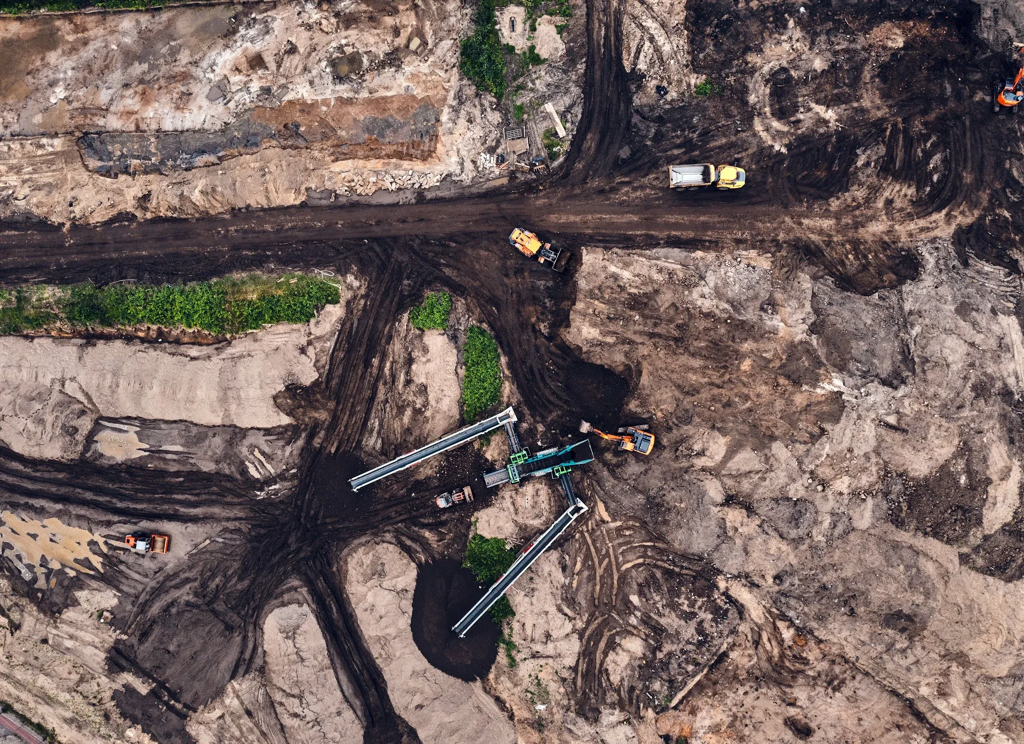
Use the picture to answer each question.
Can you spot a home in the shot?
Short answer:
No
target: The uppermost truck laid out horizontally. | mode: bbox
[668,162,745,190]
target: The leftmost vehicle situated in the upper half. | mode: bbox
[509,228,566,271]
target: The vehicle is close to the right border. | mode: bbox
[991,42,1024,112]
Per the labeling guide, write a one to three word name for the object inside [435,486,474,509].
work vehicle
